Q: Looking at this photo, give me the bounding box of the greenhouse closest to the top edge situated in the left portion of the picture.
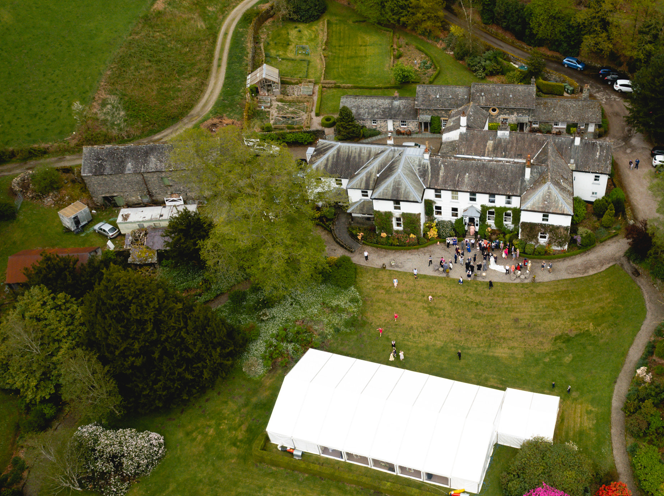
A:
[250,62,281,97]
